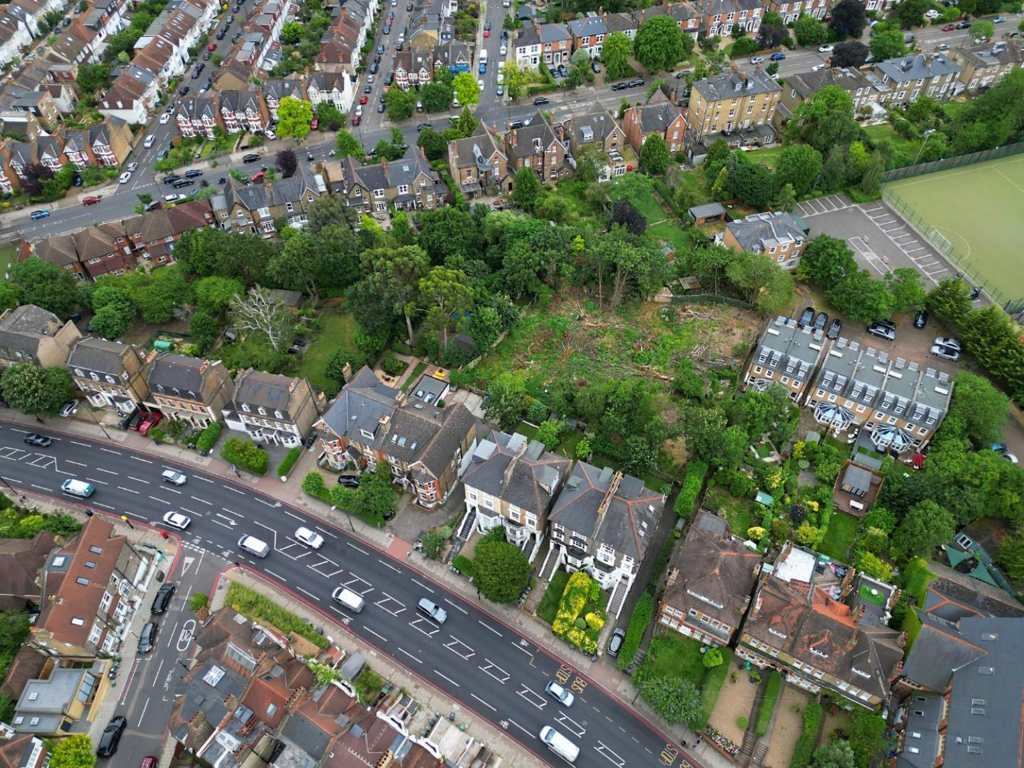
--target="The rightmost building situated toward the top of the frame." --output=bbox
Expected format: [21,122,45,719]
[946,33,1024,91]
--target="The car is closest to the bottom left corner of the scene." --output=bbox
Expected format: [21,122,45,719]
[100,718,125,758]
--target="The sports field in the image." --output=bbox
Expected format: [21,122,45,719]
[885,153,1024,308]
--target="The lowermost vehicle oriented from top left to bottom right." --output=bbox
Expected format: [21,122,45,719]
[537,722,583,766]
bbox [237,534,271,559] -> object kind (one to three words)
vehicle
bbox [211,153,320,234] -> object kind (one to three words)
house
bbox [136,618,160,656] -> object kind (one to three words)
car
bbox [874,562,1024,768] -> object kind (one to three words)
building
